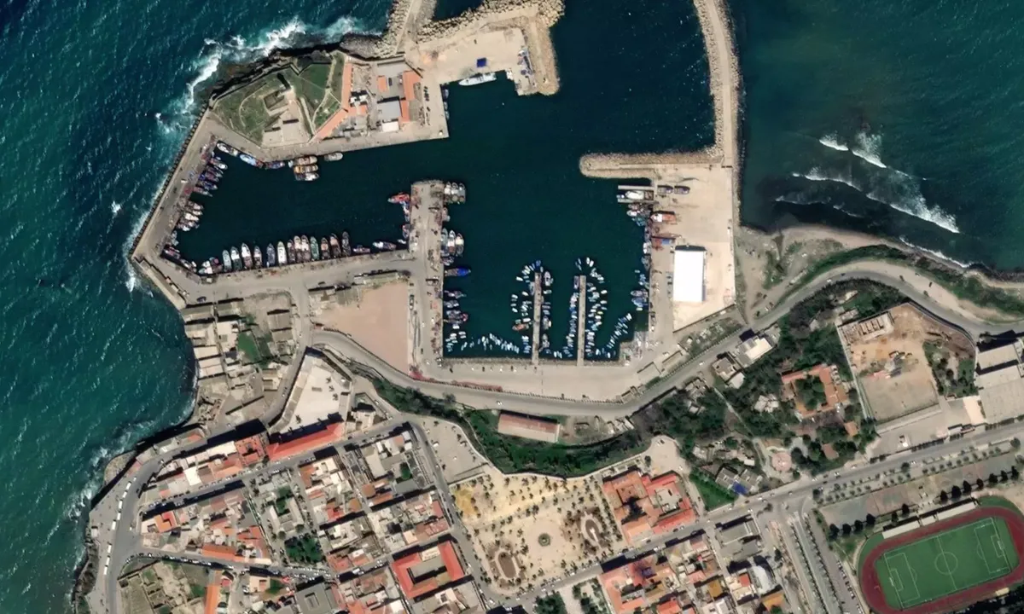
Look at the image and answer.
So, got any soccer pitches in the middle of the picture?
No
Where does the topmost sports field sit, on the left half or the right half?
right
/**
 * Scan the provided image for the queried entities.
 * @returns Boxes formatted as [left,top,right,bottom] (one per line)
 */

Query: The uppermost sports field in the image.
[861,368,938,422]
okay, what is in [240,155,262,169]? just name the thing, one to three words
boat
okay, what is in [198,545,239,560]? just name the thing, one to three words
house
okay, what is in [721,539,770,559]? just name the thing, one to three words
building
